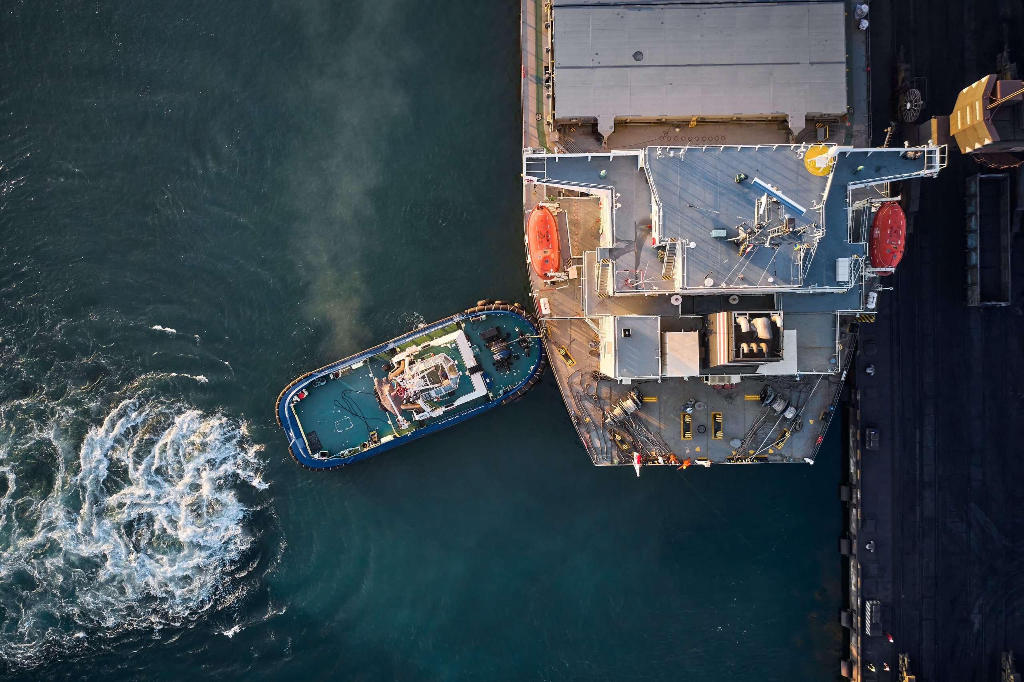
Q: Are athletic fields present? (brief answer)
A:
No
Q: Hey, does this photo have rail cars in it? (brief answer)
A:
Yes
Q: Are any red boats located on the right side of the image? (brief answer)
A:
Yes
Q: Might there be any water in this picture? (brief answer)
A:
Yes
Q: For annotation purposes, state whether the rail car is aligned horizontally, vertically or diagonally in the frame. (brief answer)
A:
vertically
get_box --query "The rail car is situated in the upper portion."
[963,170,1011,314]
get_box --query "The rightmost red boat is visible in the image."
[869,201,906,277]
